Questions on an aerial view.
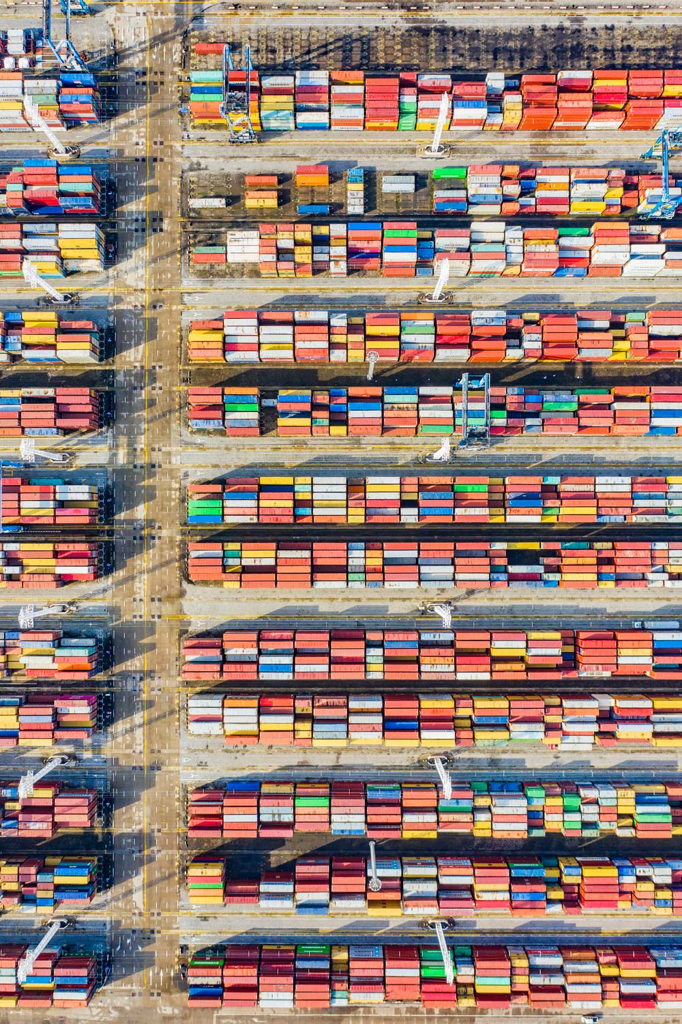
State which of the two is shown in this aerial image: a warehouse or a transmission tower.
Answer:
transmission tower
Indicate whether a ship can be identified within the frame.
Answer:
No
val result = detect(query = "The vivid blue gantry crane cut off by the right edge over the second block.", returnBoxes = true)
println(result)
[641,124,682,220]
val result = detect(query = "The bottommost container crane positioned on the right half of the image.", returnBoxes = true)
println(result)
[453,368,492,451]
